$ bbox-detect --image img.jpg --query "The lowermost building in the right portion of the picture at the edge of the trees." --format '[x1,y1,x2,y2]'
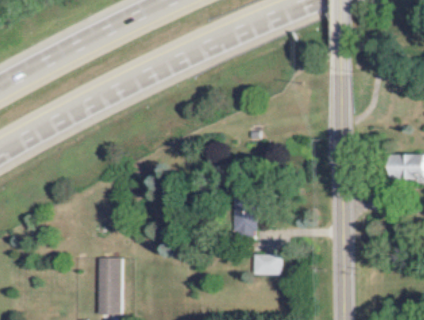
[254,254,285,276]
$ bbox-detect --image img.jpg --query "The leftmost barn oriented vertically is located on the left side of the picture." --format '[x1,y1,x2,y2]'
[98,257,126,314]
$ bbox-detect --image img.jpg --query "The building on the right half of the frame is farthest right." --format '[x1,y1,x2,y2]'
[386,154,424,184]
